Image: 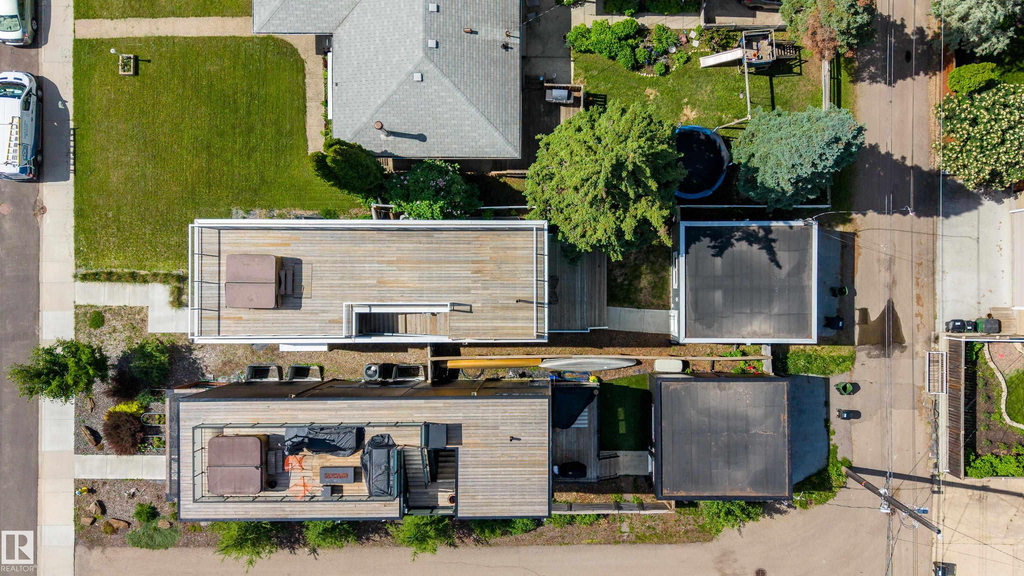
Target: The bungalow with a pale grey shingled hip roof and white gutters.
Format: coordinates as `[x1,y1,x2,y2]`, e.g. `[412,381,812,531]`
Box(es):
[250,0,524,161]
